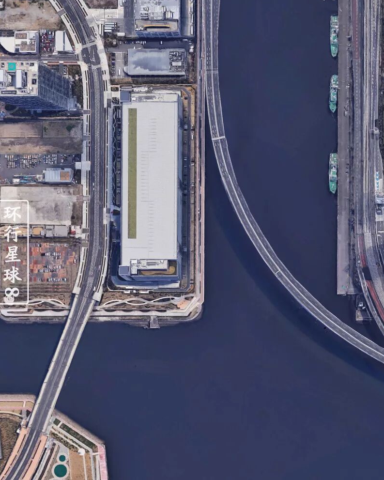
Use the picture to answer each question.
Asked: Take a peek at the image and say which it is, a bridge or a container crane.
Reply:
bridge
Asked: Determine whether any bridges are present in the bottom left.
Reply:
Yes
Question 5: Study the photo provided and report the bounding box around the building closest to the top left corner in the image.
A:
[0,31,41,52]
